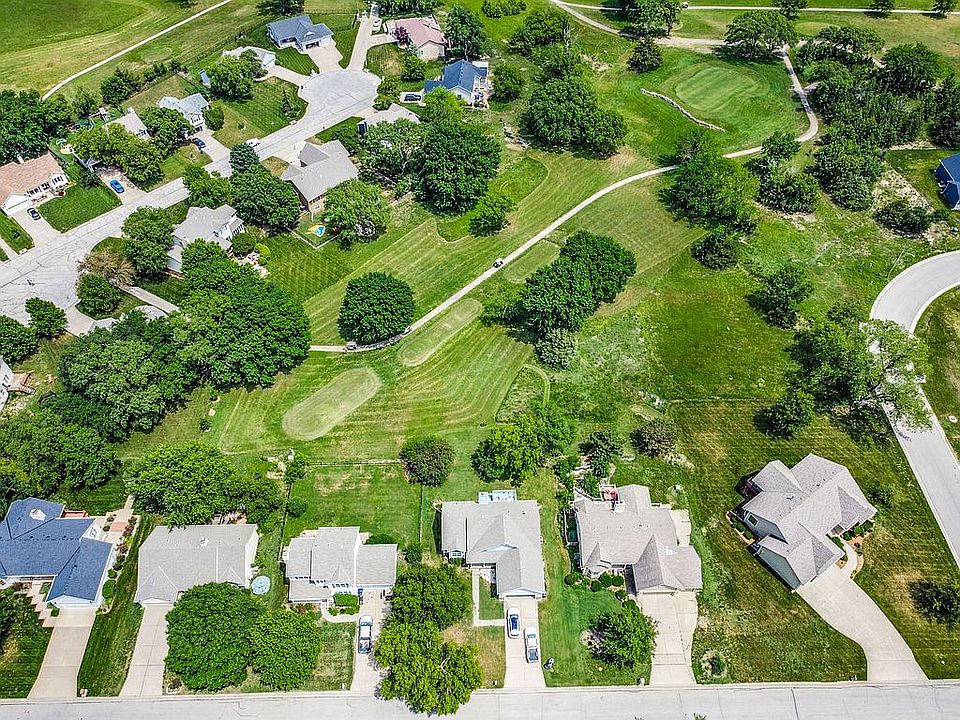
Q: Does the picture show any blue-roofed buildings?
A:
Yes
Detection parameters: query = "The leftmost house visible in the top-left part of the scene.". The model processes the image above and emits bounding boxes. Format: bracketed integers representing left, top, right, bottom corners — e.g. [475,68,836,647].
[0,150,72,215]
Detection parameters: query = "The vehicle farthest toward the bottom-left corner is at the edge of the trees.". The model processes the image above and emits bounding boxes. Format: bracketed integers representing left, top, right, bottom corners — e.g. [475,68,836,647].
[356,614,372,653]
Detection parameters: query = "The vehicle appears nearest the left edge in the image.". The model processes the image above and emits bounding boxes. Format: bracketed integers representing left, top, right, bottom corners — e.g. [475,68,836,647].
[24,206,41,219]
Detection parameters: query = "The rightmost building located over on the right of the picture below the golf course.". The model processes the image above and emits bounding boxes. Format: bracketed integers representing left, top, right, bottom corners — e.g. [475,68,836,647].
[736,451,878,587]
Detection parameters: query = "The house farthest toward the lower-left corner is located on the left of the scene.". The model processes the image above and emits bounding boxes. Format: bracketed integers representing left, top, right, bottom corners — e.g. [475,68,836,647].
[0,497,118,605]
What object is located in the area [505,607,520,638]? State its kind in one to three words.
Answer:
car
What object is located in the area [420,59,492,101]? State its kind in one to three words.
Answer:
house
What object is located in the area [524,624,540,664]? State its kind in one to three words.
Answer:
vehicle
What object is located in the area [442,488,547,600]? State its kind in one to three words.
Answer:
house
